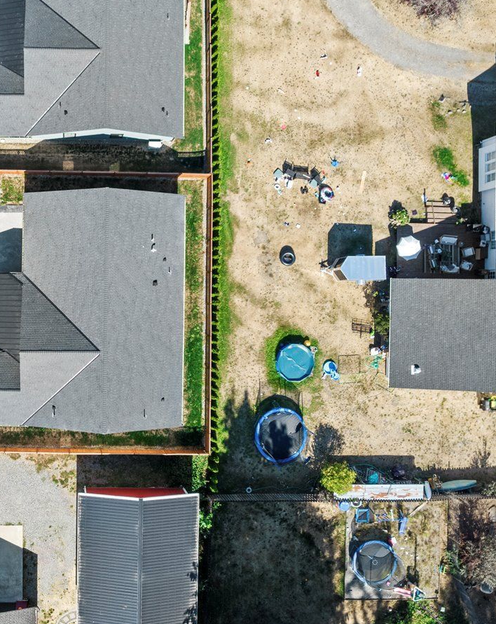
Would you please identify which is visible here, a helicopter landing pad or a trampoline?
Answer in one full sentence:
The one in the frame is a trampoline.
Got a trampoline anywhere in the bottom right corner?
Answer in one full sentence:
Yes, there is a trampoline in the bottom right corner.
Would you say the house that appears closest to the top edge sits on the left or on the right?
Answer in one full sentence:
The house that appears closest to the top edge is on the left side of the image.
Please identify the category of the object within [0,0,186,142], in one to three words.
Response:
house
